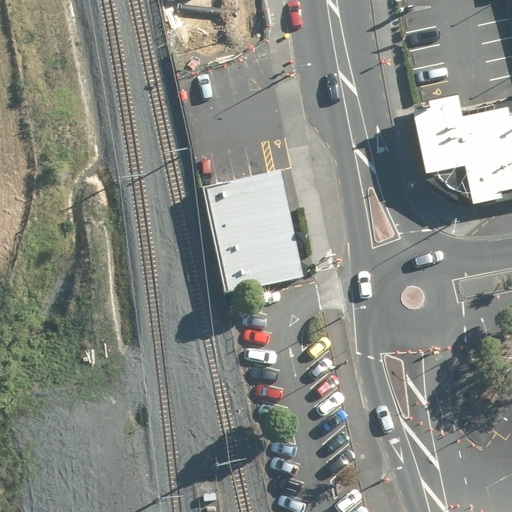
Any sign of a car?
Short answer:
Yes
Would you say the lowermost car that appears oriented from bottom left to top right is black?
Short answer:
No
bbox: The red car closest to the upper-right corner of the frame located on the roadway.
[287,0,302,28]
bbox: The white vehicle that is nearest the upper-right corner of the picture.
[416,68,449,84]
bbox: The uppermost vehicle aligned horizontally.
[406,30,440,46]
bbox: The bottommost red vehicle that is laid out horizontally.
[254,386,284,400]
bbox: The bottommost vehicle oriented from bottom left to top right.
[333,488,364,512]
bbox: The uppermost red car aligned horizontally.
[242,330,271,344]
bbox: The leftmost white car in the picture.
[197,73,213,100]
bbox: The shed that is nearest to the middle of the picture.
[204,171,310,294]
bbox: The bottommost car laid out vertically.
[377,404,394,435]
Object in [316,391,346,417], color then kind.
white car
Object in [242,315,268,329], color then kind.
gray car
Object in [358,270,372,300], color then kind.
white car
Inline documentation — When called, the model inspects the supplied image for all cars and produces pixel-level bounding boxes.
[333,488,364,512]
[270,458,300,476]
[416,68,449,84]
[327,448,356,476]
[254,386,284,400]
[316,391,346,417]
[354,504,370,512]
[197,73,213,100]
[358,270,372,300]
[324,428,350,454]
[314,374,341,398]
[287,0,302,28]
[414,250,445,266]
[264,291,282,305]
[308,356,334,380]
[377,404,394,435]
[244,348,278,365]
[257,404,285,417]
[277,494,308,512]
[326,73,340,102]
[242,315,268,329]
[318,409,348,435]
[306,336,332,360]
[249,368,278,383]
[406,30,440,46]
[242,330,271,344]
[270,443,298,457]
[200,159,214,184]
